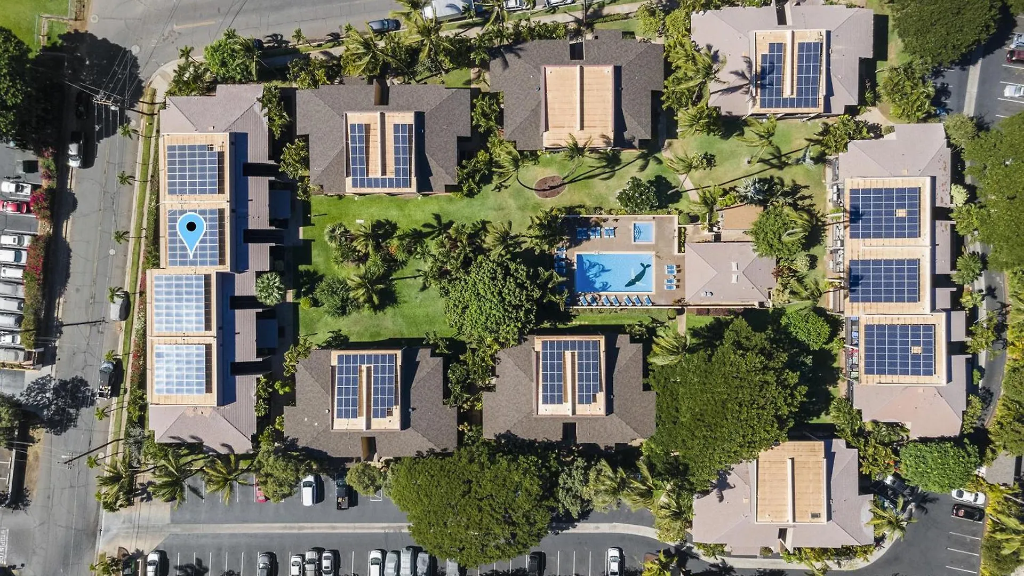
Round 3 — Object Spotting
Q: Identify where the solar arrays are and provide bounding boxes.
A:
[760,42,821,109]
[848,259,919,302]
[863,324,934,375]
[350,124,409,188]
[337,355,395,418]
[157,344,205,395]
[169,144,218,195]
[542,340,599,404]
[156,275,206,331]
[170,209,220,266]
[849,188,919,238]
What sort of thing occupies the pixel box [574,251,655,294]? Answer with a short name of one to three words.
swimming pool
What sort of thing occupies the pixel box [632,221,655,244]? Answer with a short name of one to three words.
swimming pool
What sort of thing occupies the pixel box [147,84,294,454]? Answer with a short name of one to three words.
building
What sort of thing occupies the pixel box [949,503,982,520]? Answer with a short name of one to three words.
car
